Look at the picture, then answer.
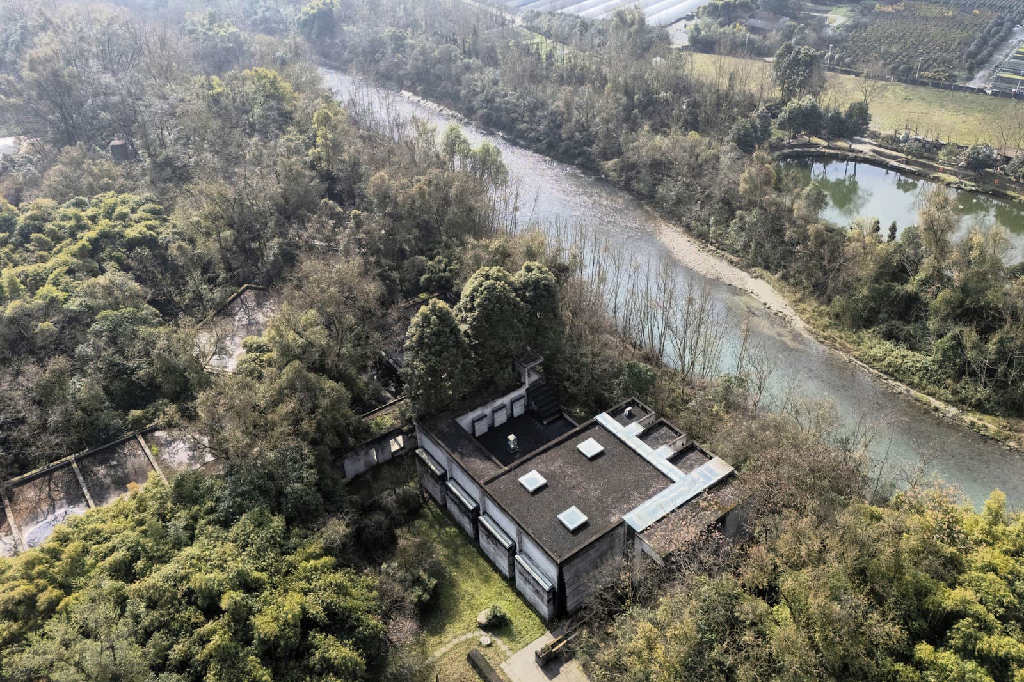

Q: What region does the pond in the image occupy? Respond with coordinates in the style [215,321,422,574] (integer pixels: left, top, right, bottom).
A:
[771,157,1024,255]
